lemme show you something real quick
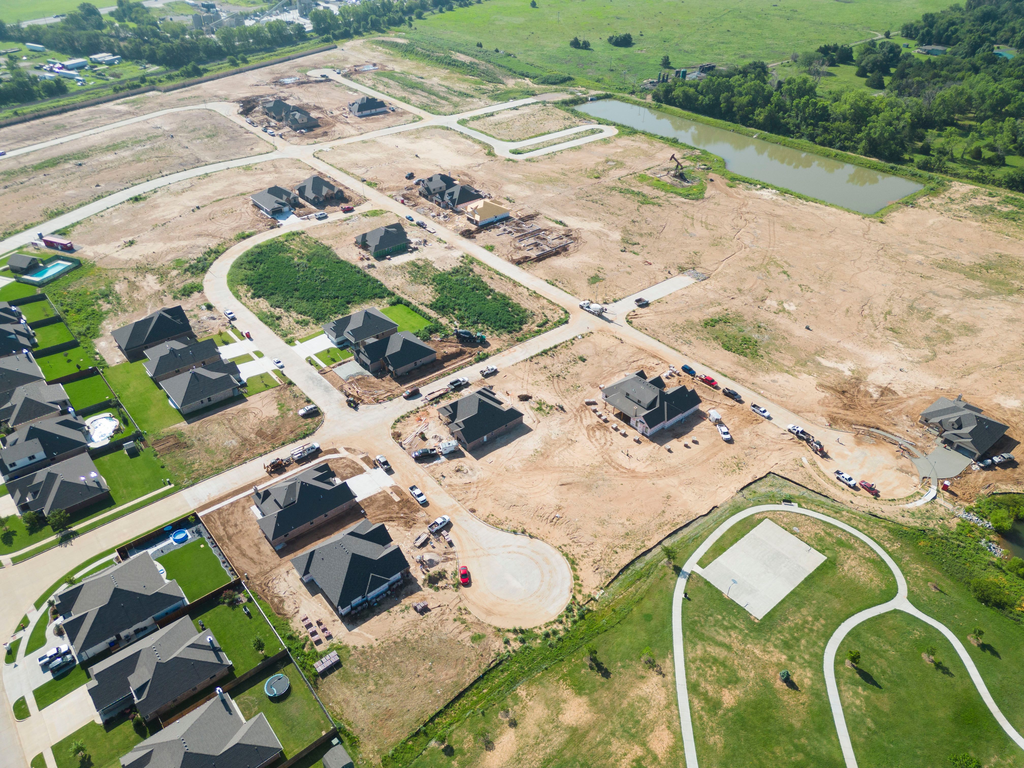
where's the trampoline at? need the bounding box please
[262,672,290,698]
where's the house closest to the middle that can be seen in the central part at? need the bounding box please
[433,386,525,451]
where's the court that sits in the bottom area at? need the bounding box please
[693,519,827,620]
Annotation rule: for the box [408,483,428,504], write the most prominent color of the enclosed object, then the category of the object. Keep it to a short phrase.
white vehicle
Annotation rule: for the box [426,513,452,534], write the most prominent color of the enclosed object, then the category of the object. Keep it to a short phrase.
white truck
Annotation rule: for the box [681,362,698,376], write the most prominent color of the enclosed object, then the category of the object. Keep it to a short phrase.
blue car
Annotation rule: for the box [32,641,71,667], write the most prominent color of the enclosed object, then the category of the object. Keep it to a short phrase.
white truck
